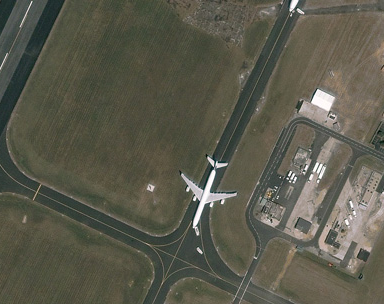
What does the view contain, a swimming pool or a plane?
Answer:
plane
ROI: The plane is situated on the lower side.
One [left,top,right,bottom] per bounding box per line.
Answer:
[179,161,237,227]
